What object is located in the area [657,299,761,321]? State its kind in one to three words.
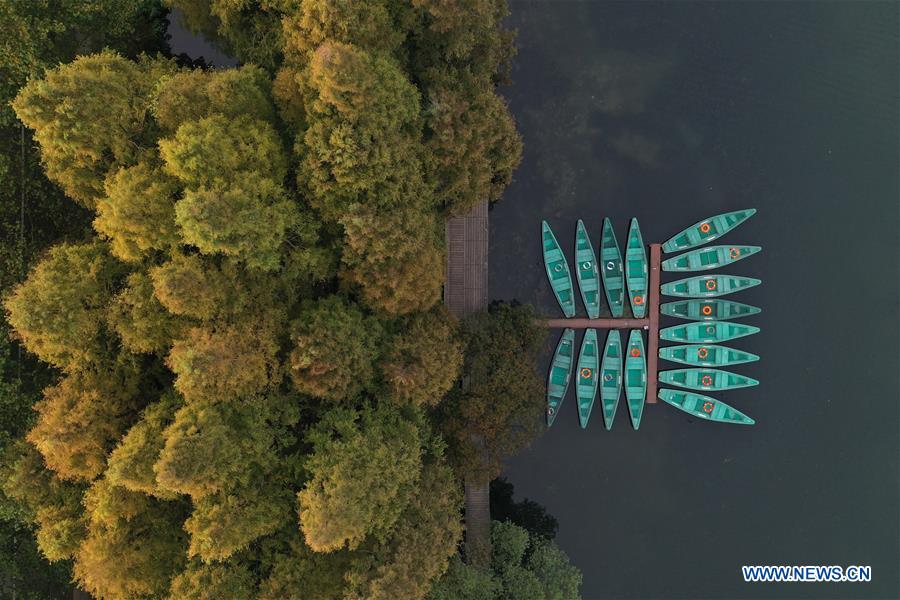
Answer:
boat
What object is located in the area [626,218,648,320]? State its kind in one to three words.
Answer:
boat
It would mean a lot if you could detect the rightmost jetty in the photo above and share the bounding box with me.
[645,242,662,403]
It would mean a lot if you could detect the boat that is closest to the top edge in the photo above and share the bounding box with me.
[658,209,757,254]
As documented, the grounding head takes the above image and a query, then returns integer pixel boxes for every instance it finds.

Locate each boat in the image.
[658,209,757,254]
[658,322,761,343]
[625,326,647,430]
[657,344,760,366]
[660,245,762,271]
[576,329,599,430]
[660,275,762,297]
[600,329,622,430]
[656,388,756,423]
[542,220,575,322]
[626,218,648,320]
[600,218,624,318]
[656,369,759,391]
[657,299,761,321]
[547,328,575,428]
[576,220,599,323]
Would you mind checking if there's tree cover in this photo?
Yes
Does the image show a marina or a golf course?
marina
